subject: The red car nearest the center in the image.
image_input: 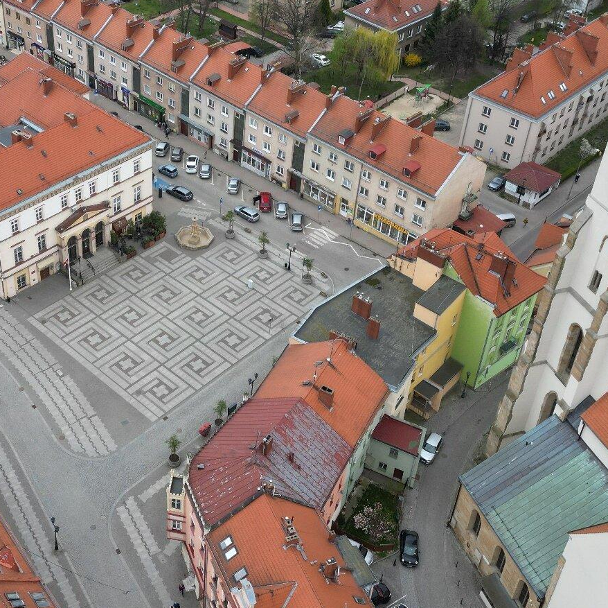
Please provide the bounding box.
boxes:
[260,195,272,211]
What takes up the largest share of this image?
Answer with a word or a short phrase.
buildings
